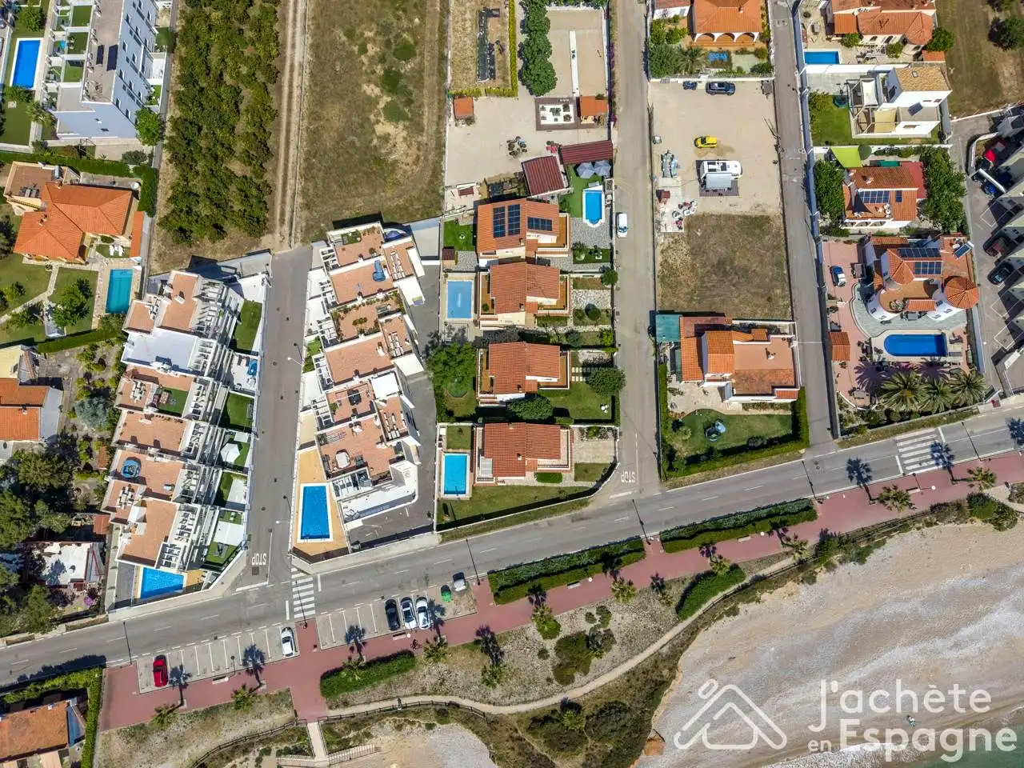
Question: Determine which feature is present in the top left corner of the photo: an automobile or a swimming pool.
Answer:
swimming pool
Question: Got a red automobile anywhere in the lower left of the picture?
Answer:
Yes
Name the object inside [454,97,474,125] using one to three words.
shed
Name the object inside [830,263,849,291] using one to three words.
car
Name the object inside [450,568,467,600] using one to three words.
vehicle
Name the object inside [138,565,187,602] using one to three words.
swimming pool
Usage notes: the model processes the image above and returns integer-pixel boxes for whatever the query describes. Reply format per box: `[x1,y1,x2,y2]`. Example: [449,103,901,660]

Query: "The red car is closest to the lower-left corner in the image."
[149,656,168,691]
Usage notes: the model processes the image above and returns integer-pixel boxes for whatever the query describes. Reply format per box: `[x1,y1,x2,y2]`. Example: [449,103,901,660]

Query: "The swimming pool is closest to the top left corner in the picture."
[10,37,43,90]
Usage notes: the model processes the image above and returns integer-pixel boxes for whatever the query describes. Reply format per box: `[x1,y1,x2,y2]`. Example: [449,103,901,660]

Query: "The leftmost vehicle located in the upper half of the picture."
[615,208,630,239]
